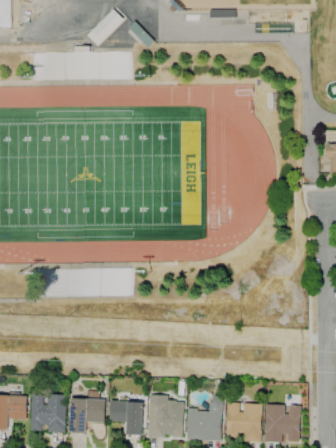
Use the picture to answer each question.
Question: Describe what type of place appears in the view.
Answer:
sports ground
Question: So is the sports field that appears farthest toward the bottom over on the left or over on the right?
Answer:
left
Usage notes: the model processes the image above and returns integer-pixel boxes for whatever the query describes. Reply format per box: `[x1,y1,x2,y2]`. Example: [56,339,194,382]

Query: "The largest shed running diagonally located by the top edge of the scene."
[88,8,126,46]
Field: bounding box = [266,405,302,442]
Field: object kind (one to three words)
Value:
house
